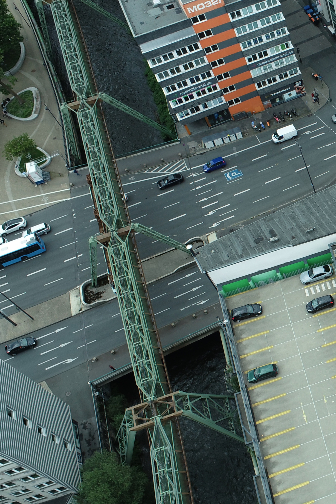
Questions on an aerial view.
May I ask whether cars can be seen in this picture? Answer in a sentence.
Yes, a car can be made out from above.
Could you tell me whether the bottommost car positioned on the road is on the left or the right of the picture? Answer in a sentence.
The bottommost car positioned on the road appears in the left half of the scene.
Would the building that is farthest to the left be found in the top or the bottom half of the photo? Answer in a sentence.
You can find the building that is farthest to the left in the bottom half.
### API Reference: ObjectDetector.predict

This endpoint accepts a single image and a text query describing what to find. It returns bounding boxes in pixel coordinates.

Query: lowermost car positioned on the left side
[5,336,38,356]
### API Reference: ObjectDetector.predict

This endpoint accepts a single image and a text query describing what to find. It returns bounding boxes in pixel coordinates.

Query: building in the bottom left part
[0,356,80,504]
